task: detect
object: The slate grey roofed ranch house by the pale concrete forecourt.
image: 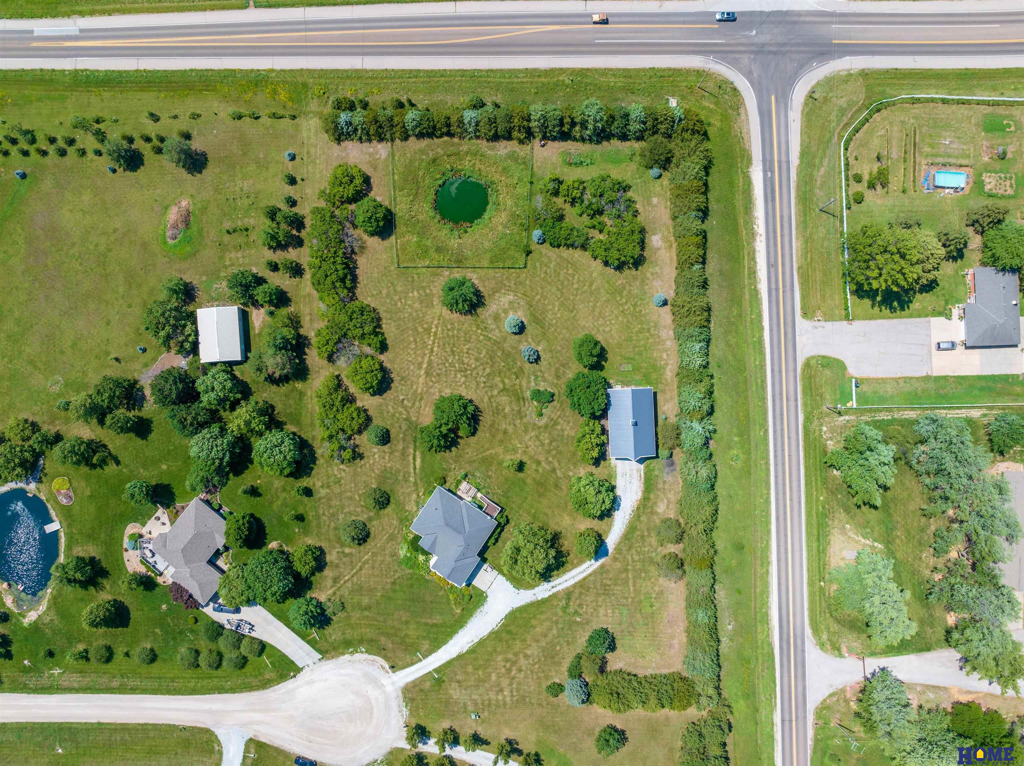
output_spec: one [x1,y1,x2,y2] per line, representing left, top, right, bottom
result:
[960,267,1021,347]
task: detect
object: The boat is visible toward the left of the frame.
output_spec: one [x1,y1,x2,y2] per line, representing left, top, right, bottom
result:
[226,621,251,636]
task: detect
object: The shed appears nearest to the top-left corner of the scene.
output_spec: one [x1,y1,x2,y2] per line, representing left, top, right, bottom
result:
[196,306,247,363]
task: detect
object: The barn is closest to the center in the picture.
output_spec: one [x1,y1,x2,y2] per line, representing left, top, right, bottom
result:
[607,388,656,462]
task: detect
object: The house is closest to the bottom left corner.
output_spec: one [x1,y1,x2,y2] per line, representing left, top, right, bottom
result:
[152,497,227,606]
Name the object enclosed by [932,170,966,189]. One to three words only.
swimming pool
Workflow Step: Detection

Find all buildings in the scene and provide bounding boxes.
[409,486,498,589]
[152,497,227,606]
[607,388,656,462]
[960,267,1021,347]
[196,306,247,363]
